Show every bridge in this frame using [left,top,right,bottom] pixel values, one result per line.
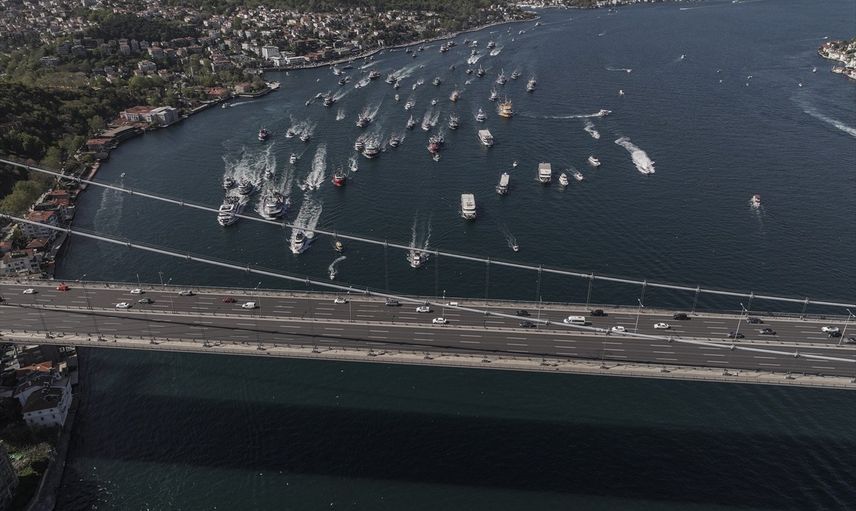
[0,159,856,390]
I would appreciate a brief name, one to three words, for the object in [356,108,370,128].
boat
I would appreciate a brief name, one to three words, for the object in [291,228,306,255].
boat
